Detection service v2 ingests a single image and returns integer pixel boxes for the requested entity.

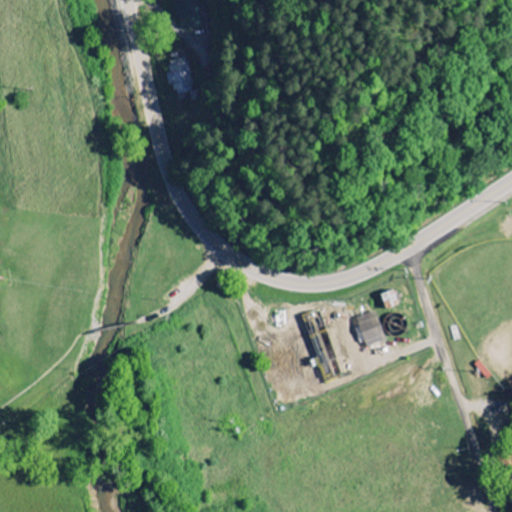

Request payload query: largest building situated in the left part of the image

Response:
[166,58,194,94]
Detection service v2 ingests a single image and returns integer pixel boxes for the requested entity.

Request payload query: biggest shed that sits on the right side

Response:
[354,311,384,346]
